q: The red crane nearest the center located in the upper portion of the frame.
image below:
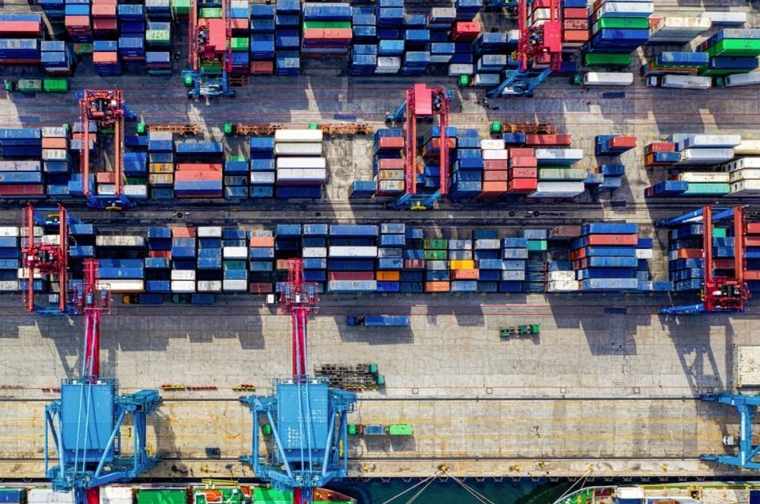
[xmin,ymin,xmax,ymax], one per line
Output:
[379,81,453,218]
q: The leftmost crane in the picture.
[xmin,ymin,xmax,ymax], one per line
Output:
[20,206,89,320]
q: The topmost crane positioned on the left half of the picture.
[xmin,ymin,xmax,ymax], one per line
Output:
[181,0,237,96]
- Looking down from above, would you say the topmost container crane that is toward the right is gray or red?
red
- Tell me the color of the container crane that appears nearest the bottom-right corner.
blue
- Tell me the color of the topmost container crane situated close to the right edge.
red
